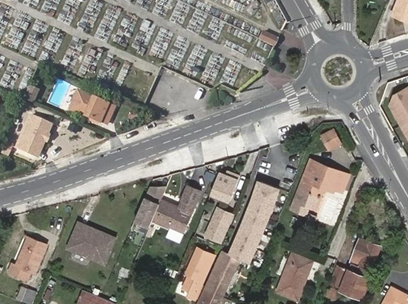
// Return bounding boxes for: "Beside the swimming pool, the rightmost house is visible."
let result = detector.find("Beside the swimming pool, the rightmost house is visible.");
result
[68,90,118,126]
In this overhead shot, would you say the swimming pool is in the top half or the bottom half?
top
